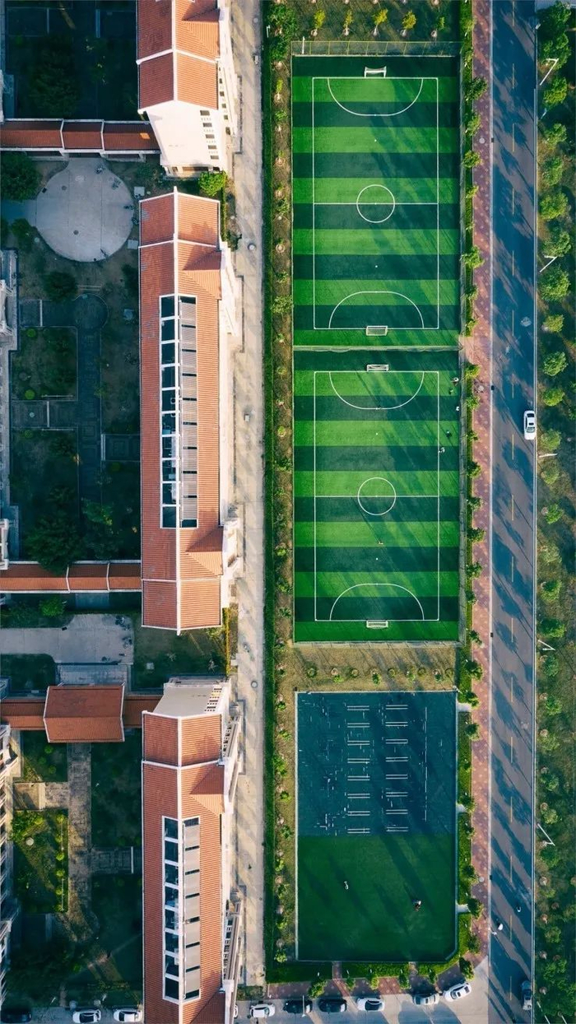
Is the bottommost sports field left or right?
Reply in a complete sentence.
It is on the right.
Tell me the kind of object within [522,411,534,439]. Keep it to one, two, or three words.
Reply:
vehicle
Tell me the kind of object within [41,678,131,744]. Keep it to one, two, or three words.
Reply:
building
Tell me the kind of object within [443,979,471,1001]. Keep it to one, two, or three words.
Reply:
car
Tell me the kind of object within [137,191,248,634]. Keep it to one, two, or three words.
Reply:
building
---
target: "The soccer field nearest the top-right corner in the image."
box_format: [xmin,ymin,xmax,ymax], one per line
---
[294,56,459,348]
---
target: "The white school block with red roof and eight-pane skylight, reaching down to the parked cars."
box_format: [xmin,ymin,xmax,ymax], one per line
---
[140,670,250,1024]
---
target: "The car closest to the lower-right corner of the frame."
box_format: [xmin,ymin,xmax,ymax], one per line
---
[521,979,535,1009]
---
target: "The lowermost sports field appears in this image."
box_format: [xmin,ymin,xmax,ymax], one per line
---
[294,689,461,962]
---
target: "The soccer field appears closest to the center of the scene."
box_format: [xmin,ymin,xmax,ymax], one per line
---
[294,349,459,642]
